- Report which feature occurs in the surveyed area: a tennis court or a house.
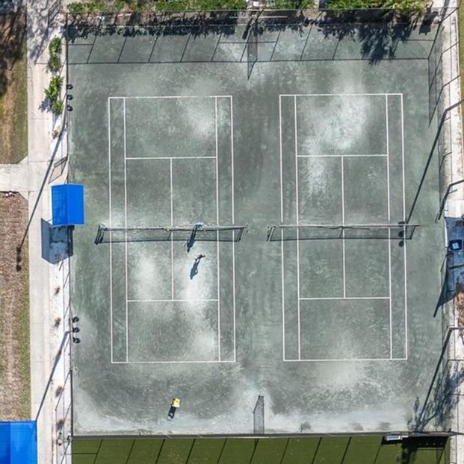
tennis court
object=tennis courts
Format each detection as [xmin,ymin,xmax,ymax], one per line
[256,22,449,433]
[68,23,260,434]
